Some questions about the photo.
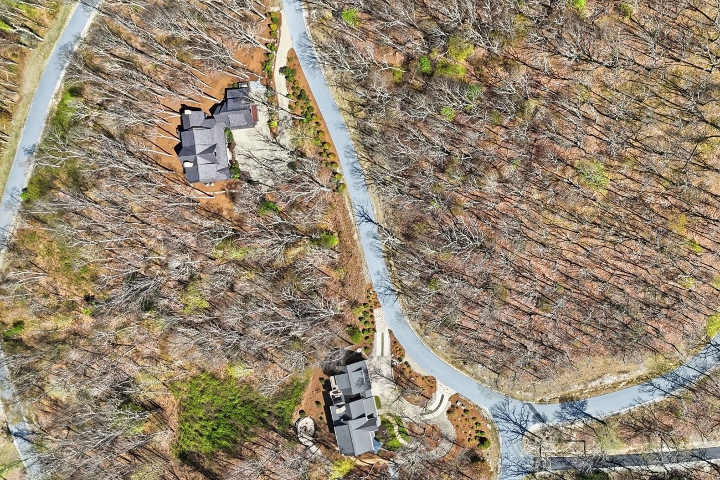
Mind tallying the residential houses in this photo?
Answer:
2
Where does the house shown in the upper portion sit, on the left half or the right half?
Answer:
left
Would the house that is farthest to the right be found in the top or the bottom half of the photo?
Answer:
bottom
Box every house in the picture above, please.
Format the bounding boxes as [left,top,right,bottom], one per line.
[329,358,383,456]
[178,89,260,183]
